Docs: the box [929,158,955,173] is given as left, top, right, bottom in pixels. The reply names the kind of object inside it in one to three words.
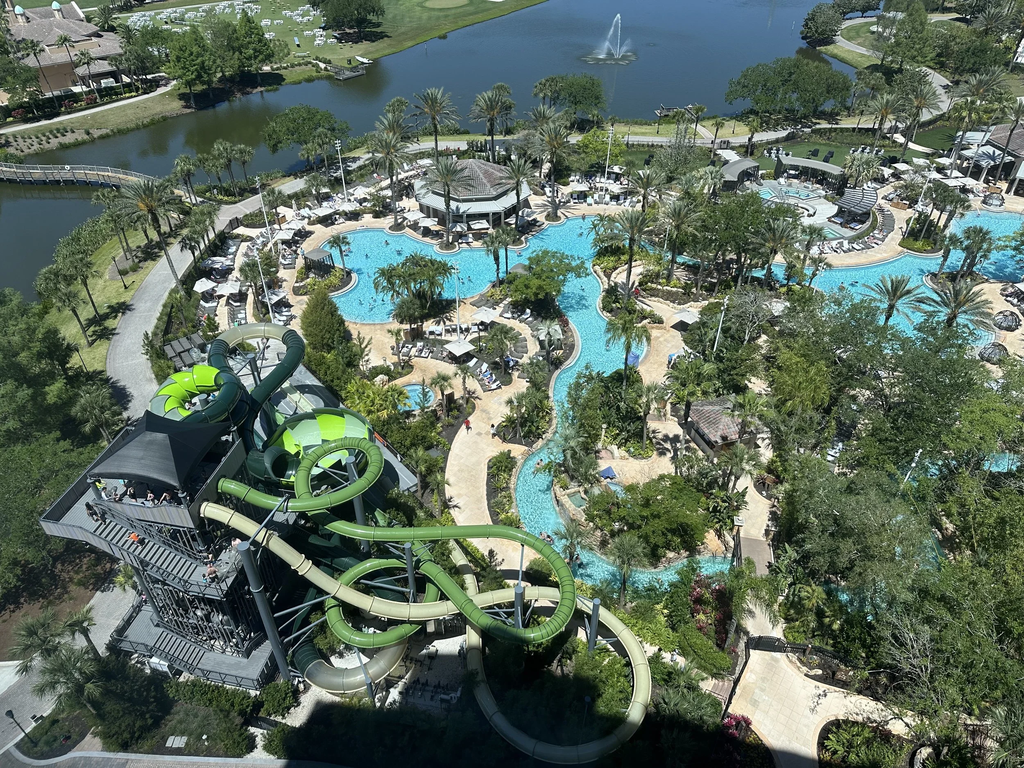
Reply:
umbrella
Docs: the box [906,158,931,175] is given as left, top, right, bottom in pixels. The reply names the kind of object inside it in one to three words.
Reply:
umbrella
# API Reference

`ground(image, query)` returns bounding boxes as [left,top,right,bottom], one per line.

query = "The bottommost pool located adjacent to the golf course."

[322,213,1024,612]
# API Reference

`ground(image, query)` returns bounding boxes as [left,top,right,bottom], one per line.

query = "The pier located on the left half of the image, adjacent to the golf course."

[326,59,368,86]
